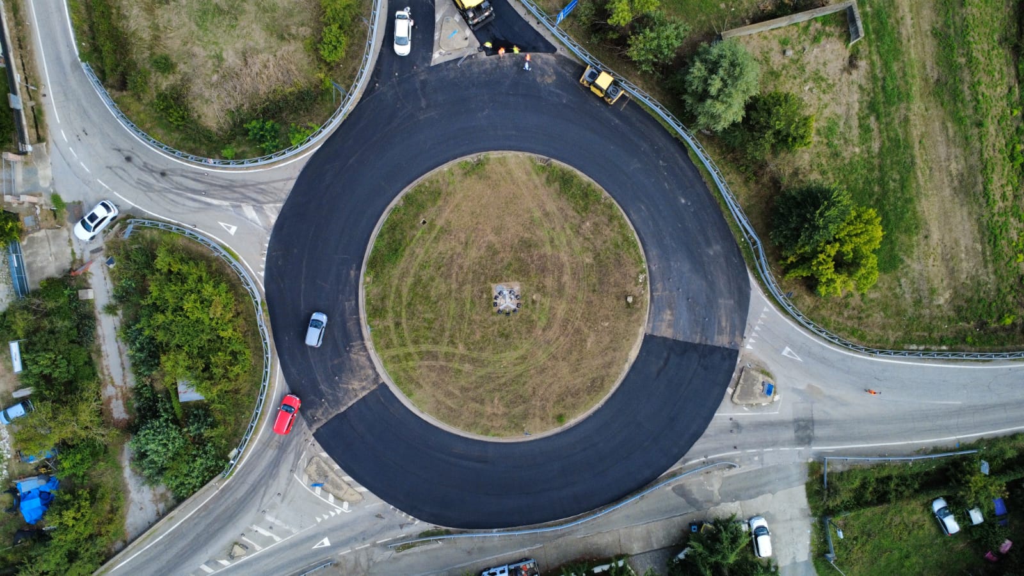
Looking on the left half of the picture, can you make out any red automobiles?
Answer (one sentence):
Yes, on the left half of the picture there is a red automobile.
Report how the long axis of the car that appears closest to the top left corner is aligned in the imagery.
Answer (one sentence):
In this picture, the car that appears closest to the top left corner lies at an angle.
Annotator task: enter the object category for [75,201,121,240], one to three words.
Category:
car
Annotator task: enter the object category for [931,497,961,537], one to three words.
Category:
car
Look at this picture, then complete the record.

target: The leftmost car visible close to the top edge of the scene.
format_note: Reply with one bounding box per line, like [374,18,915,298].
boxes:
[392,10,412,54]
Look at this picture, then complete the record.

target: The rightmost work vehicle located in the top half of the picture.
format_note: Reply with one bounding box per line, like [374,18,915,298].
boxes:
[577,67,626,106]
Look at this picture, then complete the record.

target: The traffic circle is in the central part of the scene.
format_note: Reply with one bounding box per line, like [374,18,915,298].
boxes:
[263,0,752,529]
